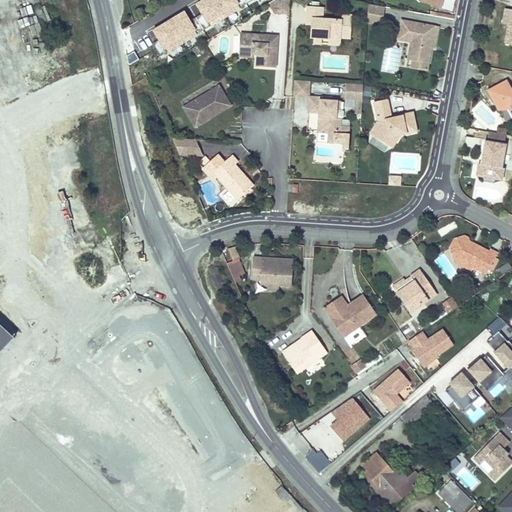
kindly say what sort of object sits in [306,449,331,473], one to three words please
building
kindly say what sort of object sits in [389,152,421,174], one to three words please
swimming pool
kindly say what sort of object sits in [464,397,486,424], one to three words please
swimming pool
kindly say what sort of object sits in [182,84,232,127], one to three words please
house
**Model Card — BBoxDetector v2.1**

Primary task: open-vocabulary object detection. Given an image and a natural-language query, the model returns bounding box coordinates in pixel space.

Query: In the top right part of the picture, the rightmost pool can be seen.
[472,100,504,130]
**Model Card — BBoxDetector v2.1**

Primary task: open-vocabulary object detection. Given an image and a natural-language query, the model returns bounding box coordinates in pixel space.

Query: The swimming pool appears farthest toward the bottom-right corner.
[456,467,481,490]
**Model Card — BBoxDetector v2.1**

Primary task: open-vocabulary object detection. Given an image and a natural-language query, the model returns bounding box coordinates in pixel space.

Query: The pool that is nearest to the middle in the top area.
[199,176,224,207]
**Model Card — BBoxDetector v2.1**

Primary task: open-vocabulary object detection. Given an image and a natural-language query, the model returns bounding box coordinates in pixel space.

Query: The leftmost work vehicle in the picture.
[59,192,72,220]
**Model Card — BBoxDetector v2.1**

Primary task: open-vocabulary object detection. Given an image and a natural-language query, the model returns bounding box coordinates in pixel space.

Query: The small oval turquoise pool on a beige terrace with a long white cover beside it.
[208,28,240,61]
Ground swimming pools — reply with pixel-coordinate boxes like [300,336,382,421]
[456,467,481,490]
[320,52,350,73]
[434,252,458,280]
[208,28,240,61]
[472,100,504,130]
[313,144,344,164]
[199,176,224,207]
[489,382,507,398]
[389,152,421,174]
[464,397,486,424]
